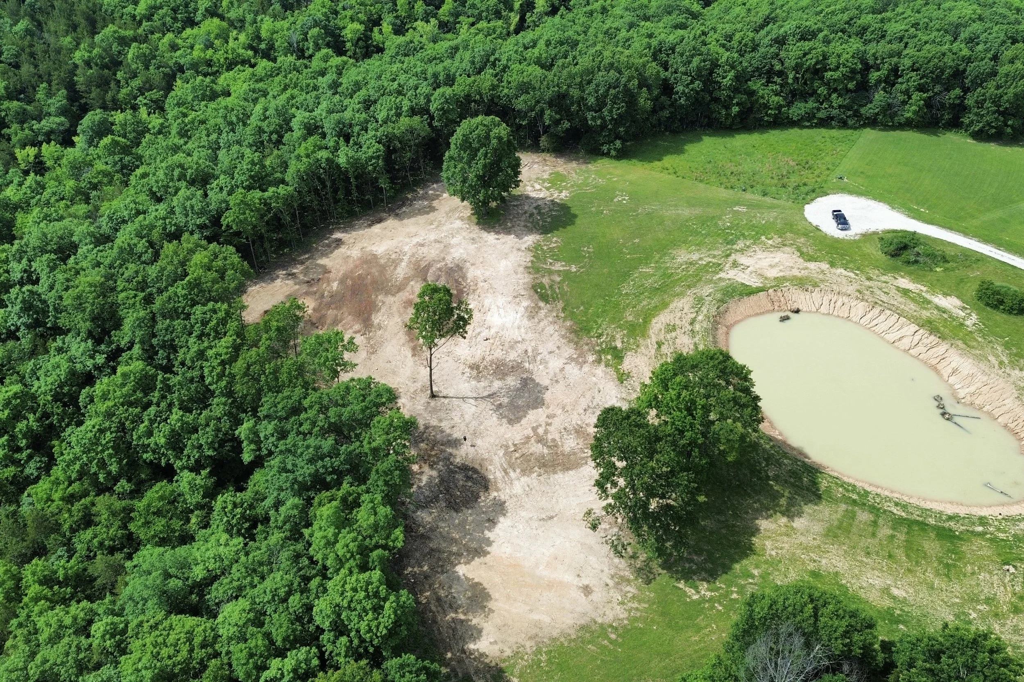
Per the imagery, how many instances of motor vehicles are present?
1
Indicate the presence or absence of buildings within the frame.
No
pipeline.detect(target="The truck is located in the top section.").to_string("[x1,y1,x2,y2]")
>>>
[832,206,853,227]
